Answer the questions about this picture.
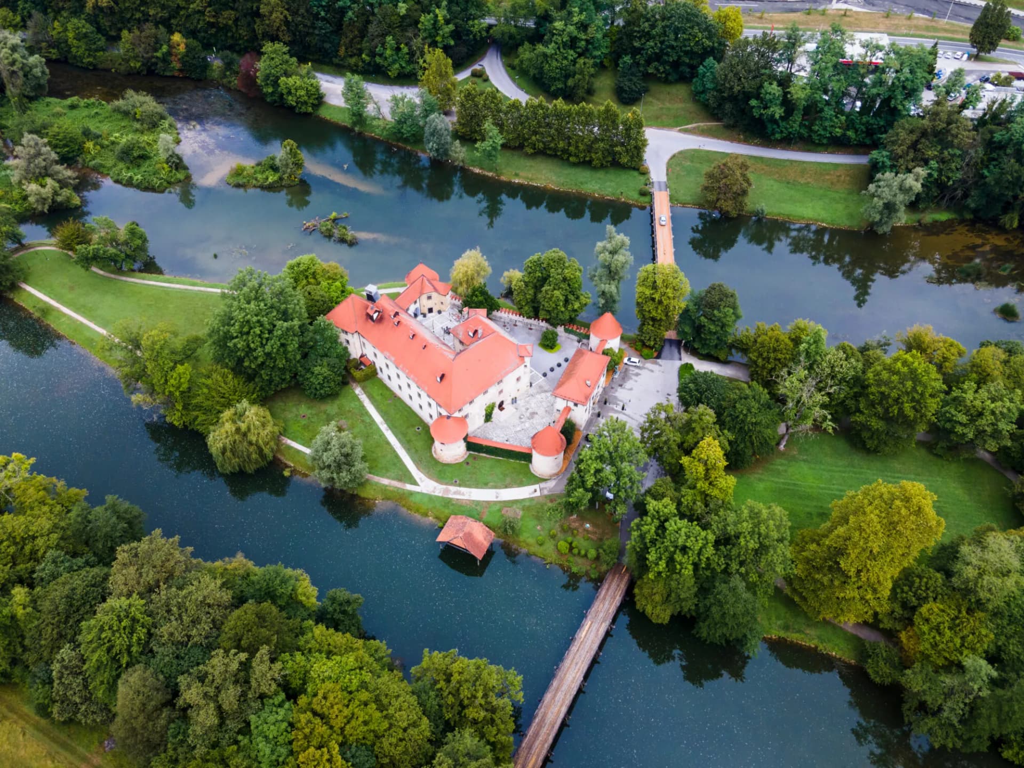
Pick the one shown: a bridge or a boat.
bridge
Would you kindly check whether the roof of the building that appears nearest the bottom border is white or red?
red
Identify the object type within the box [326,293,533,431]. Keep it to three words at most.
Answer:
building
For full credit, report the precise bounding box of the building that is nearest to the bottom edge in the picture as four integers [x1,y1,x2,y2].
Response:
[436,516,495,565]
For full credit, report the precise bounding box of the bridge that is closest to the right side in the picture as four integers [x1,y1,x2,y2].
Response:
[651,189,682,339]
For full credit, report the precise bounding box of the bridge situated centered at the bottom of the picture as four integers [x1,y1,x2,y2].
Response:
[510,564,631,768]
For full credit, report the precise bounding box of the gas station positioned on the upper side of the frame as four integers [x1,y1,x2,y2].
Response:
[800,33,887,71]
